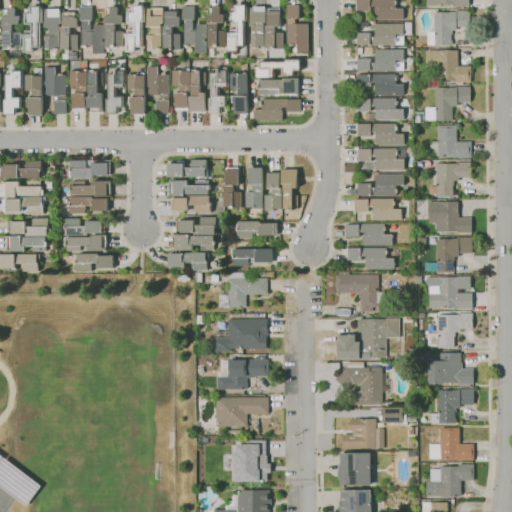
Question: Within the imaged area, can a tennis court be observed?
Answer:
No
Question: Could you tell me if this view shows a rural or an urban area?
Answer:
urban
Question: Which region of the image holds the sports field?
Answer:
bottom left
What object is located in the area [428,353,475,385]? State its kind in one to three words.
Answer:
house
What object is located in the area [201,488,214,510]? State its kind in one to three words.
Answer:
swimming pool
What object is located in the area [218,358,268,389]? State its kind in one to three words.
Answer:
house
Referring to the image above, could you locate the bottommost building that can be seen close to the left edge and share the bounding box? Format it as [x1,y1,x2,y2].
[0,455,40,506]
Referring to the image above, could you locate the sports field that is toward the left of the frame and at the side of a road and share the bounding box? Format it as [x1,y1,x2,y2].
[0,294,174,512]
